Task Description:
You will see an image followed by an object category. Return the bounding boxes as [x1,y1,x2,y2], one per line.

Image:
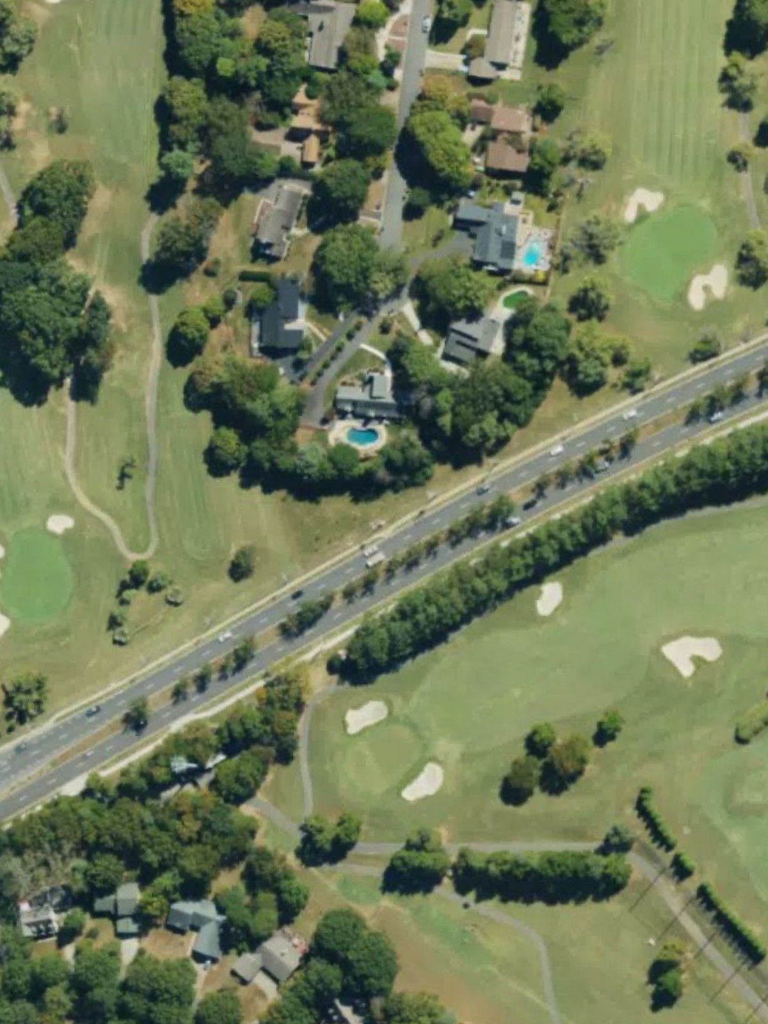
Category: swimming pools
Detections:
[497,287,534,316]
[516,221,552,272]
[329,419,388,455]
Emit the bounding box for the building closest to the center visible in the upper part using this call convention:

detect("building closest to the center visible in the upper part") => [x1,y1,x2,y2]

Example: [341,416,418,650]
[335,374,398,418]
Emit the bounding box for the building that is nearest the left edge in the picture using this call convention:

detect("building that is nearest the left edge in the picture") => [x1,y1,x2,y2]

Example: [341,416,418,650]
[18,898,61,938]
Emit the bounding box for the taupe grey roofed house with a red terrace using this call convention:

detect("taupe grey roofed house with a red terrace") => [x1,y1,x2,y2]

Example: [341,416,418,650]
[232,931,303,984]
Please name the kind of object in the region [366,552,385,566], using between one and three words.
vehicle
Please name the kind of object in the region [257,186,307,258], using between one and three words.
house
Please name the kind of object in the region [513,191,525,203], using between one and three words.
gazebo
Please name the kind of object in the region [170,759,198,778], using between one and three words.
house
